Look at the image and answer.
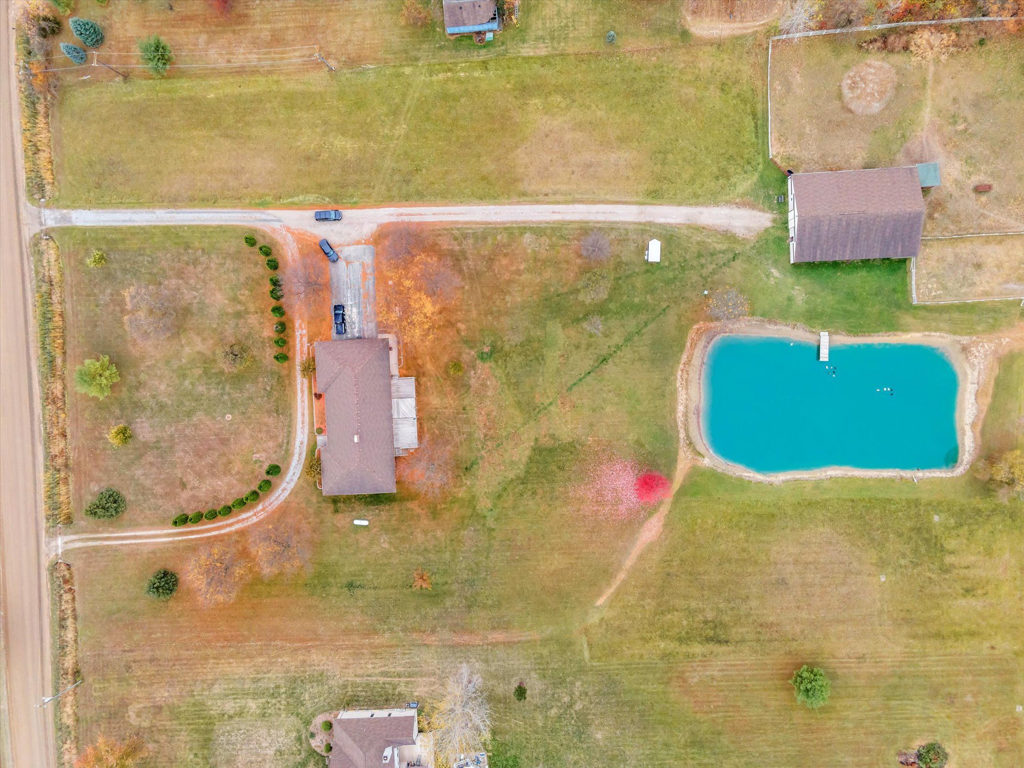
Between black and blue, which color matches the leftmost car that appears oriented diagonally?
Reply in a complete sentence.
From above, the leftmost car that appears oriented diagonally appears blue.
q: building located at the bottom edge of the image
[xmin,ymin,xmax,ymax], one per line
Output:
[326,711,417,768]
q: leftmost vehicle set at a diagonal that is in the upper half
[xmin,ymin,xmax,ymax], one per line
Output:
[317,237,338,262]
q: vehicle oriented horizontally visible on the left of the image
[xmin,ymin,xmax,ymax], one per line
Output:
[314,208,341,221]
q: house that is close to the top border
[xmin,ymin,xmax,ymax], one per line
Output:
[443,0,499,37]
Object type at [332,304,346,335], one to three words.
vehicle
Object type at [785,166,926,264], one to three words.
barn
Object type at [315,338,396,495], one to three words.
house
